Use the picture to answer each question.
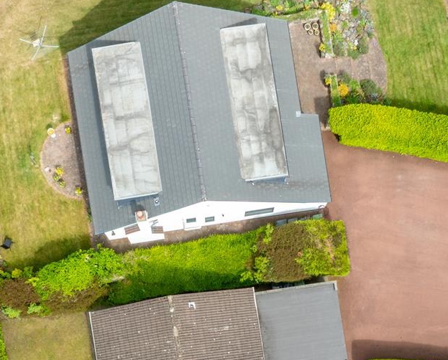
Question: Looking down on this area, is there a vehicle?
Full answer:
No, there is no vehicle in the image.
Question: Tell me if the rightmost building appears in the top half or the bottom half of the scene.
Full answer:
Seen from above, the rightmost building lies in the bottom half of the view.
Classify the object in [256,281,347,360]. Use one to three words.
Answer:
building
